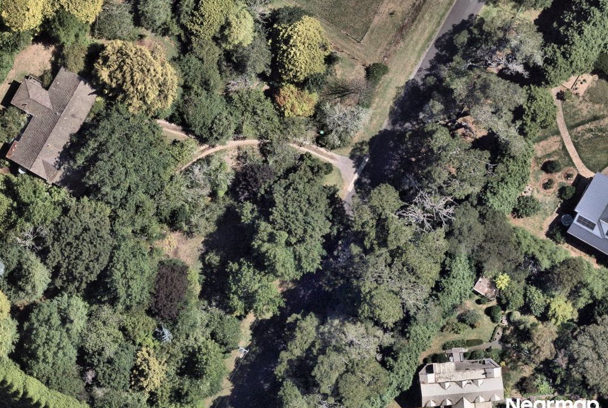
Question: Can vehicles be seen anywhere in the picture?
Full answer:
No, I find no vehicle anywhere in the image.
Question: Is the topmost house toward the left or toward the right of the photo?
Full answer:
The topmost house appears in the left half of the scene.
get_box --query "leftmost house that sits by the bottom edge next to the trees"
[420,348,504,408]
